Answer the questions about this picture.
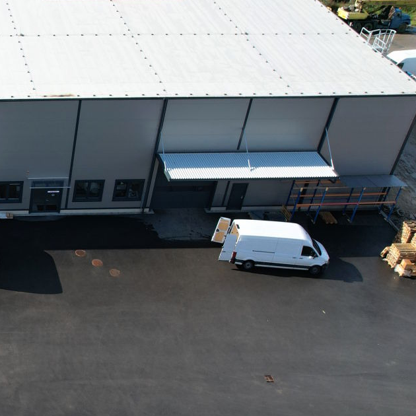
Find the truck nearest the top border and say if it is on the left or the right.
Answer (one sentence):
It is on the right.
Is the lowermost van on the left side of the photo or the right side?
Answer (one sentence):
The lowermost van is on the right side of the image.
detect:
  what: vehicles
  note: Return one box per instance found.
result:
[216,223,331,275]
[330,0,416,35]
[386,49,416,76]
